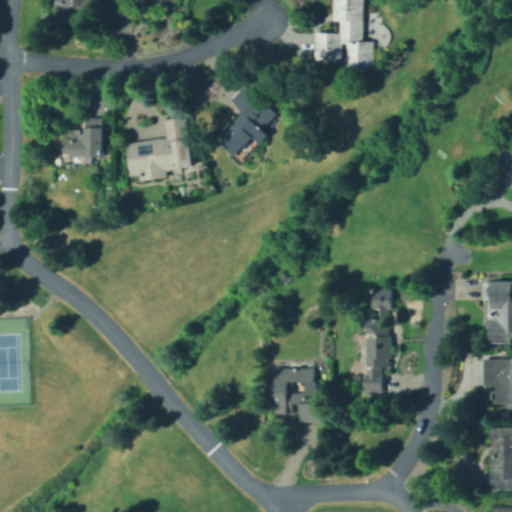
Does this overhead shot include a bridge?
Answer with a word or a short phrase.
No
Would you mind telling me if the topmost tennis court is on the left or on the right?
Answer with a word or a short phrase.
left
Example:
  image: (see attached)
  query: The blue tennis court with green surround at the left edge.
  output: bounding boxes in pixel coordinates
[0,318,31,407]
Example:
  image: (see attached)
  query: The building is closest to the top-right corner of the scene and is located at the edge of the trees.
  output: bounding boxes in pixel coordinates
[315,0,375,65]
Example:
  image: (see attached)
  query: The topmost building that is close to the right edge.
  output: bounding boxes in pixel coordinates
[484,281,512,346]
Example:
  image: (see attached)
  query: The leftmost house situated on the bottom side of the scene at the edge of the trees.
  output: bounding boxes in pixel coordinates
[273,368,316,415]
